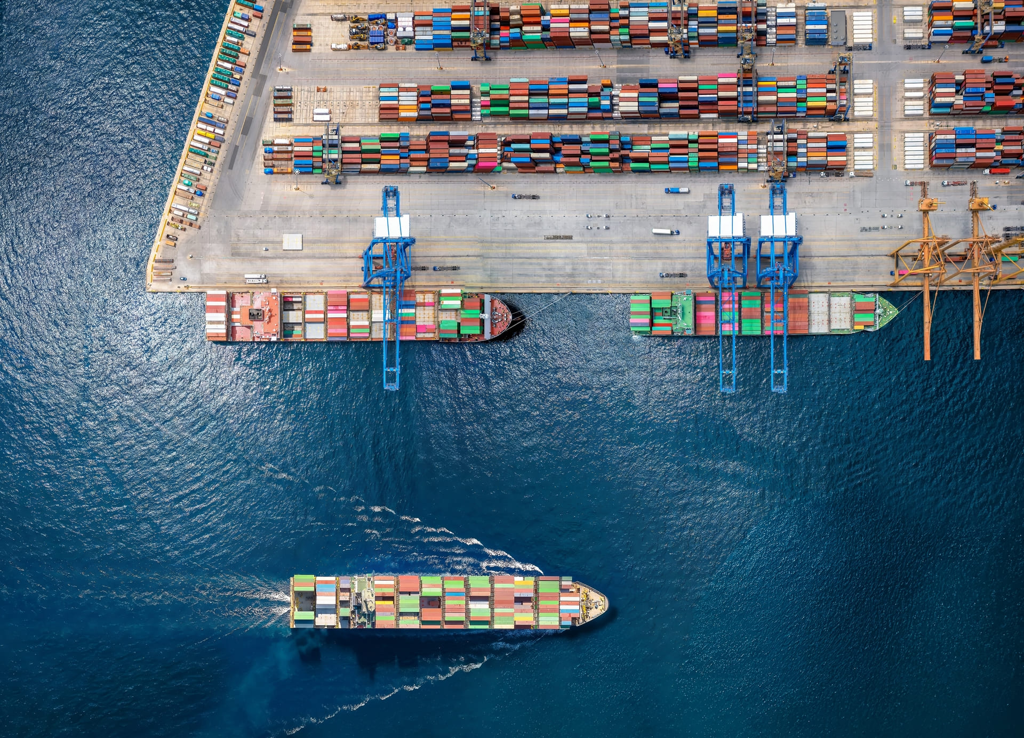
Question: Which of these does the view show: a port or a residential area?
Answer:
port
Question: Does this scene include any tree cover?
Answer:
No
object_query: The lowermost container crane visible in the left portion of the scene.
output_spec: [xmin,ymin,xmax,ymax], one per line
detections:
[371,184,425,397]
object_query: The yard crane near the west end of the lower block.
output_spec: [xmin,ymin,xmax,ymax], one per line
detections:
[322,117,352,187]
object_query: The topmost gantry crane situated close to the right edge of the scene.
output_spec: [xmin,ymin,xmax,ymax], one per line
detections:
[960,0,996,56]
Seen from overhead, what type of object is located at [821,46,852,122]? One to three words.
container crane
